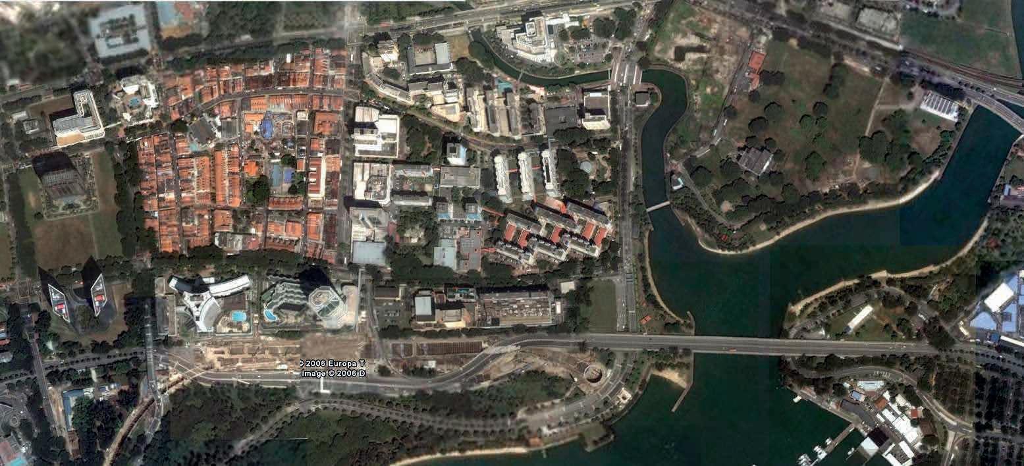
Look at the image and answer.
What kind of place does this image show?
residential area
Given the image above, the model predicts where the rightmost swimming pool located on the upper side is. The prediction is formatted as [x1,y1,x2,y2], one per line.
[495,78,514,93]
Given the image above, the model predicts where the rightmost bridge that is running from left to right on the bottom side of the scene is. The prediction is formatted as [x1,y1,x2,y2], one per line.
[691,334,786,355]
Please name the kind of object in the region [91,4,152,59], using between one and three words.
building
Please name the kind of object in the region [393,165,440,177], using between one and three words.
building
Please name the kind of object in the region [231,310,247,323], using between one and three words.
swimming pool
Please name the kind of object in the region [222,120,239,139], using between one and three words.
shed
